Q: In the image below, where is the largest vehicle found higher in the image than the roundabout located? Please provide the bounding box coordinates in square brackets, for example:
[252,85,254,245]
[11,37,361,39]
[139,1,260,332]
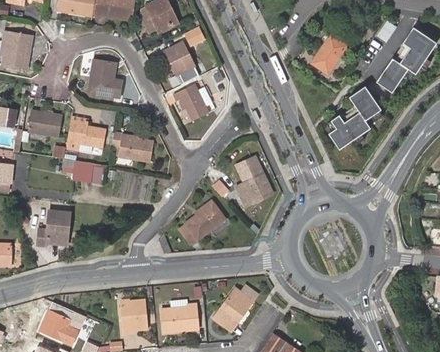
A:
[271,56,288,84]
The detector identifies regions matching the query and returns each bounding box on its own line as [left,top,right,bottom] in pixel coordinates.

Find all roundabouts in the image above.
[276,190,388,303]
